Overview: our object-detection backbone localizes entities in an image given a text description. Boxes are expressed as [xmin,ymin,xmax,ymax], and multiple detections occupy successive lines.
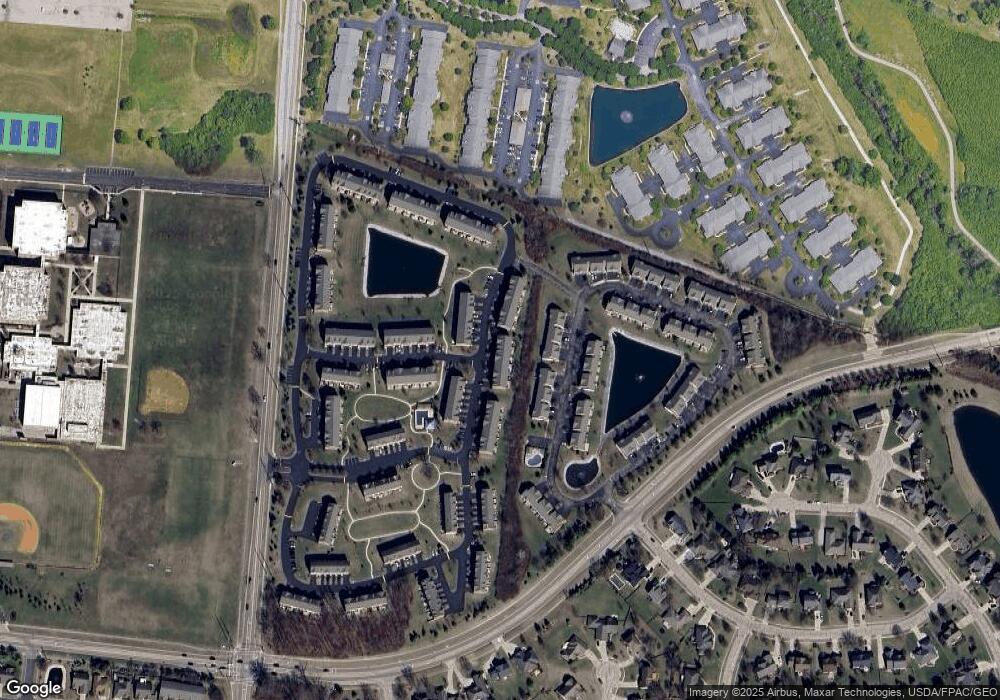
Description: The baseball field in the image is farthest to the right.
[142,368,189,419]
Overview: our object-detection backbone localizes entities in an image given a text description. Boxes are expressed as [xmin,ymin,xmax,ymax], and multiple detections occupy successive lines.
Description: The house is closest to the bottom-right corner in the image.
[952,662,981,687]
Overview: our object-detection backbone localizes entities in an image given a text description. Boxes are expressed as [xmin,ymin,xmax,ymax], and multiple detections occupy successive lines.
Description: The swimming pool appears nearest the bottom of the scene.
[608,573,626,591]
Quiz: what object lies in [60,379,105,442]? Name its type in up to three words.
building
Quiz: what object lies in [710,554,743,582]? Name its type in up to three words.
house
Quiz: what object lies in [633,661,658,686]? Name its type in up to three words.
house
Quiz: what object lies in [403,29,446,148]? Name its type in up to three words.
building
